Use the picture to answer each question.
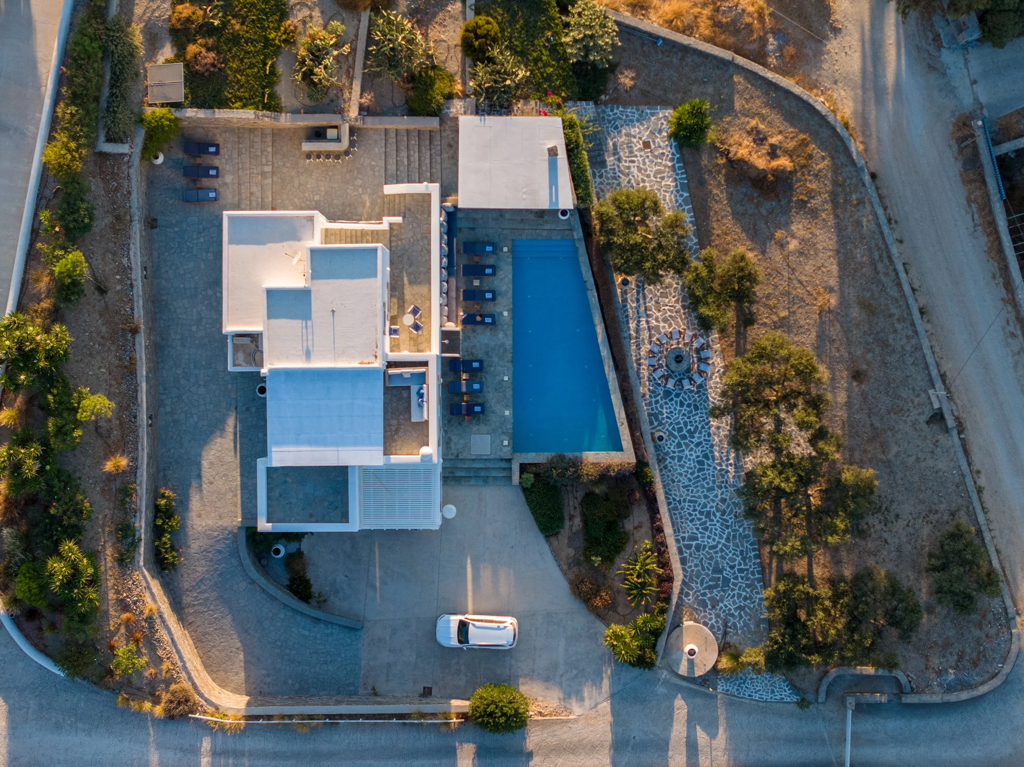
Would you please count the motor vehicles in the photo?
one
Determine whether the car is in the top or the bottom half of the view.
bottom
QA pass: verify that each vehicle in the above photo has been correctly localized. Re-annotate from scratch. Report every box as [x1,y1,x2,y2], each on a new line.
[436,610,518,653]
